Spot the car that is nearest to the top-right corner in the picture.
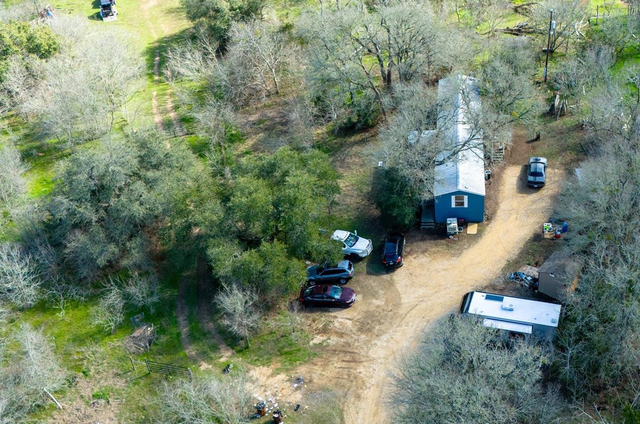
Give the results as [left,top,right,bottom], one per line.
[526,158,548,190]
